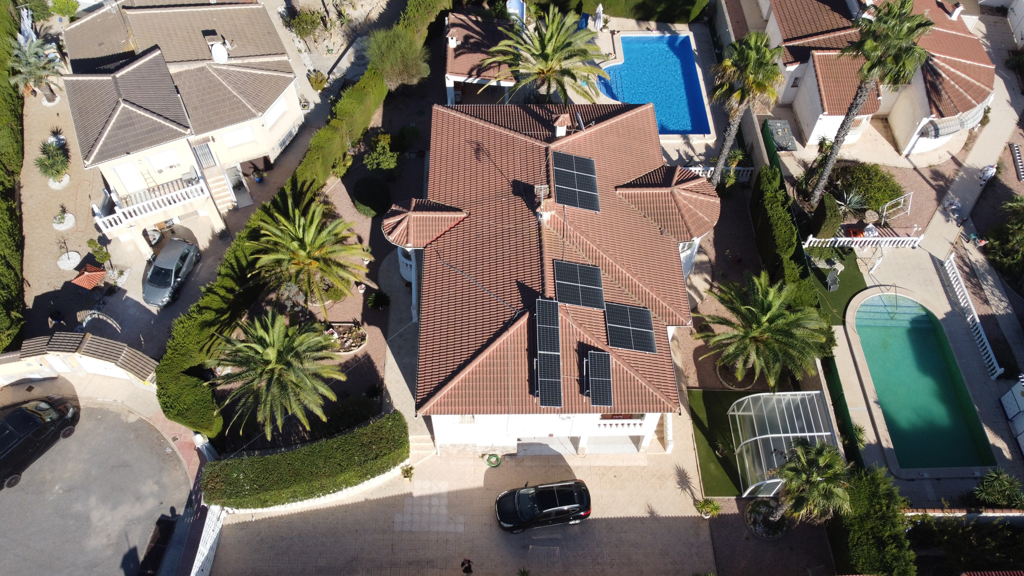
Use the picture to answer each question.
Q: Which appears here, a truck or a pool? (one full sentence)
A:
There is a pool in the scene.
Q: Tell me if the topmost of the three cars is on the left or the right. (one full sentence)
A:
It is on the left.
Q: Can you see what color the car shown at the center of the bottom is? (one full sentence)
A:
The car shown at the center of the bottom looks black in the image.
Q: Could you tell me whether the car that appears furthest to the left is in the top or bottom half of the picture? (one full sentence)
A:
Seen from above, the car that appears furthest to the left lies in the bottom half of the view.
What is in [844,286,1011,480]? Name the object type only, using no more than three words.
swimming pool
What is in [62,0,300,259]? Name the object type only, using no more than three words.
house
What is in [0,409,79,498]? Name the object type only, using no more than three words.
car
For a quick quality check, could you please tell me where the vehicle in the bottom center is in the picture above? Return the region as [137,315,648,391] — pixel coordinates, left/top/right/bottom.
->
[494,481,593,536]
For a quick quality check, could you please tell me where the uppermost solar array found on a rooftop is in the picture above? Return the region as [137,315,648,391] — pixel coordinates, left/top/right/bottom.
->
[552,151,600,213]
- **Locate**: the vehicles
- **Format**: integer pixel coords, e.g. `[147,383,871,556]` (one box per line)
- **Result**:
[494,481,593,536]
[0,409,79,498]
[142,240,200,306]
